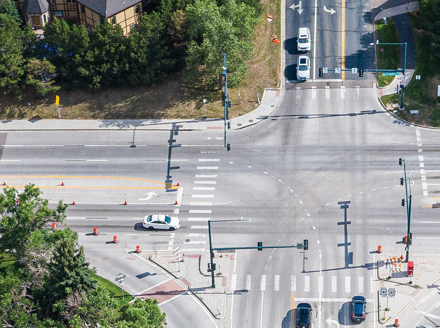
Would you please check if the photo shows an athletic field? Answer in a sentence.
No, the scene contains no athletic field.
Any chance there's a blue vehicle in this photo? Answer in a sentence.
Yes, the image includes a blue vehicle.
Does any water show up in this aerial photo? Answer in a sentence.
No, there's no water in this view.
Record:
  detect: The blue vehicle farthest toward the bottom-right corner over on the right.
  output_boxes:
[351,296,368,323]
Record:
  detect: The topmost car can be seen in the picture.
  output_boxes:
[297,29,311,51]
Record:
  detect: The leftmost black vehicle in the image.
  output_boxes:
[295,303,314,328]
